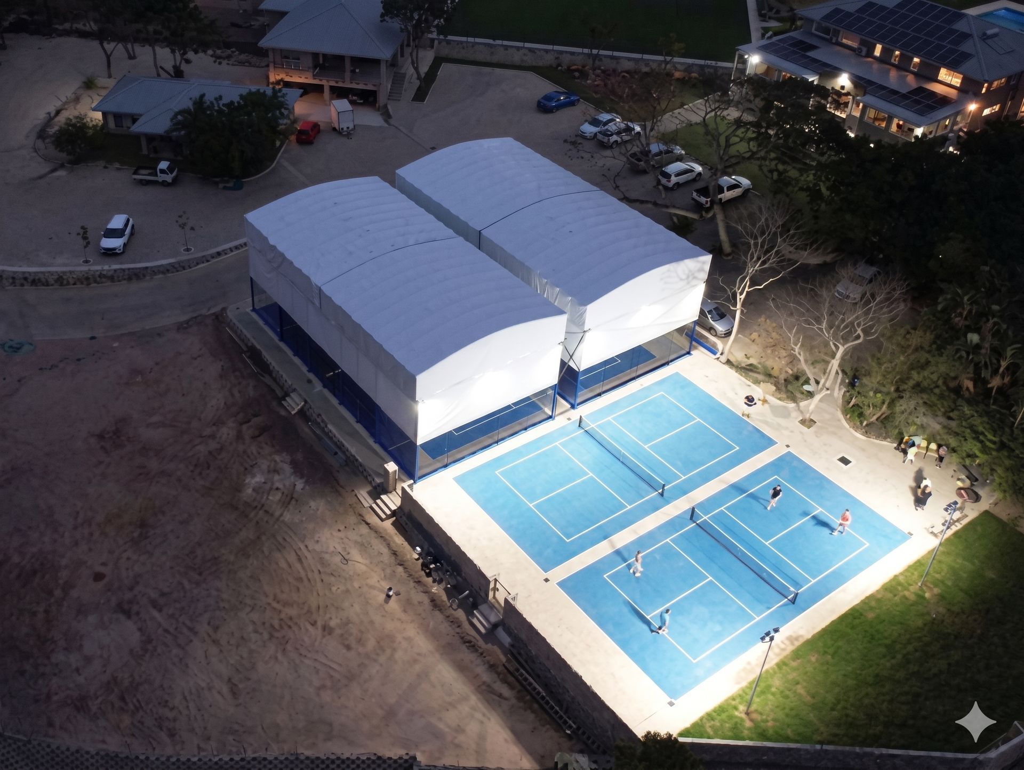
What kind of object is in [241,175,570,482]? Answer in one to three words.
tent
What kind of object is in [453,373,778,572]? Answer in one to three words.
sports court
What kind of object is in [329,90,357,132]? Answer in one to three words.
trailer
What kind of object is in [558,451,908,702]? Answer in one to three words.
sports court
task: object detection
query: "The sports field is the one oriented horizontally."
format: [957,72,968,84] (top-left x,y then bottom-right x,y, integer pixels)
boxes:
[437,0,759,64]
